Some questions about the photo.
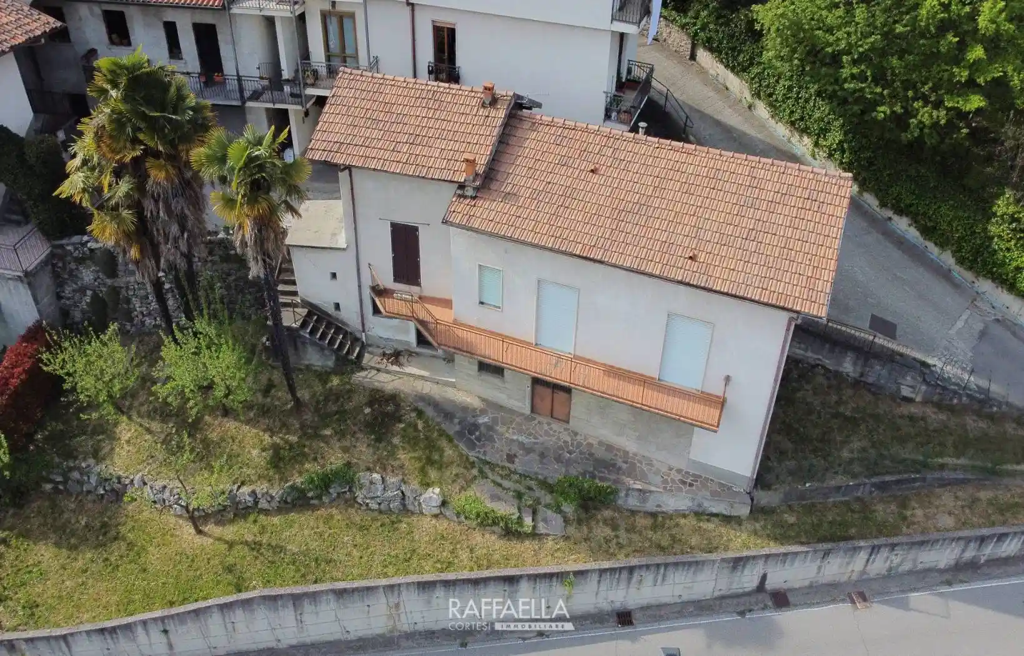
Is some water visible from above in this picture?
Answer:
No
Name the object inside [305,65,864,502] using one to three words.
house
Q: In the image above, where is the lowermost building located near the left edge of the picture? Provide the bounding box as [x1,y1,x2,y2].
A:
[0,222,73,334]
